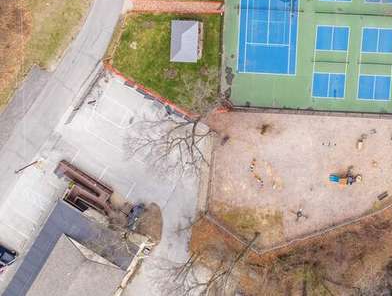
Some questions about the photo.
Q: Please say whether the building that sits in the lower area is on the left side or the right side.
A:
left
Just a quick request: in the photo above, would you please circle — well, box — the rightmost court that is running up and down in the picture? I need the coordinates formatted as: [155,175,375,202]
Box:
[357,27,392,101]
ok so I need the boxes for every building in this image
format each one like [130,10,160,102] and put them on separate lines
[170,20,203,62]
[5,197,150,296]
